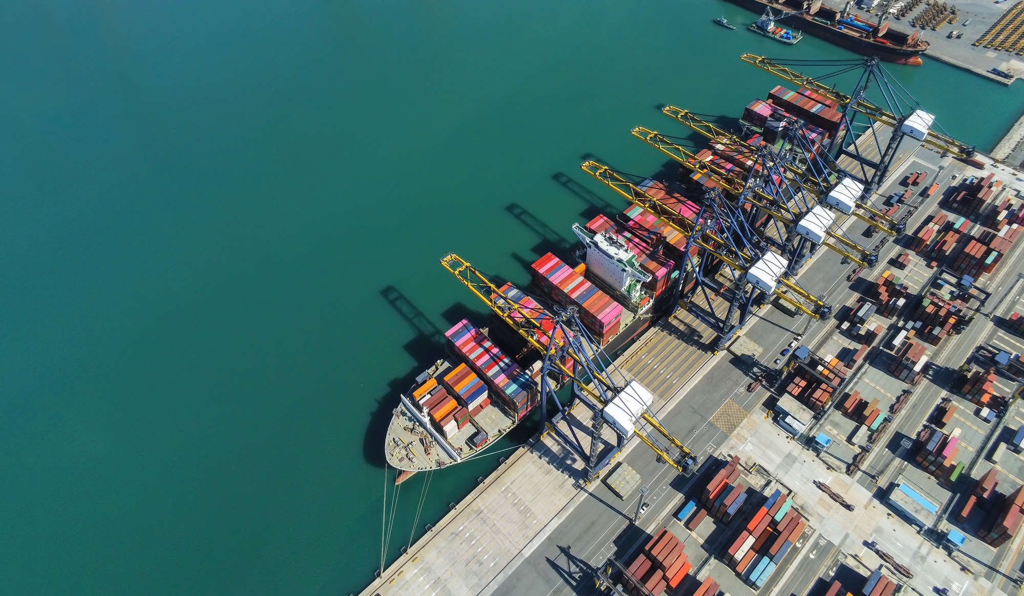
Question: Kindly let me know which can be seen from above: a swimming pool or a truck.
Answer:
truck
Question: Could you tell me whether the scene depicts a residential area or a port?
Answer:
port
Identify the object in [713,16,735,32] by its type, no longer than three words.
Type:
boat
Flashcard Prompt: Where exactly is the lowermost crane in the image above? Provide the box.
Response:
[587,552,659,596]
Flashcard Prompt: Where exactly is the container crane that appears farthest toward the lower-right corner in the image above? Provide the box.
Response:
[949,356,1024,430]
